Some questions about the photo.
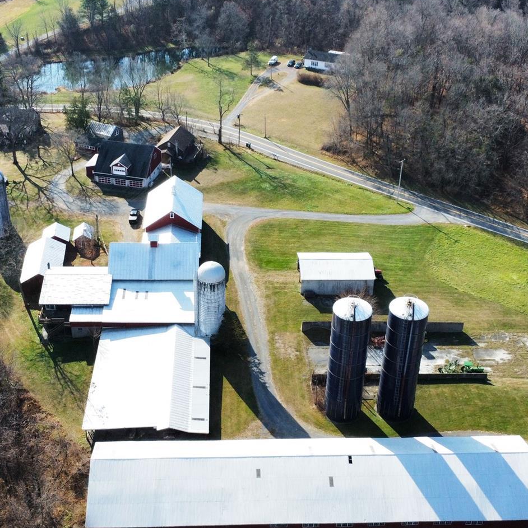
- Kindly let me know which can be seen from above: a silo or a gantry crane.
silo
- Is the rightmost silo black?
Yes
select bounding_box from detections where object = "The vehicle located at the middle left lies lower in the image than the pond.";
[128,209,140,221]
